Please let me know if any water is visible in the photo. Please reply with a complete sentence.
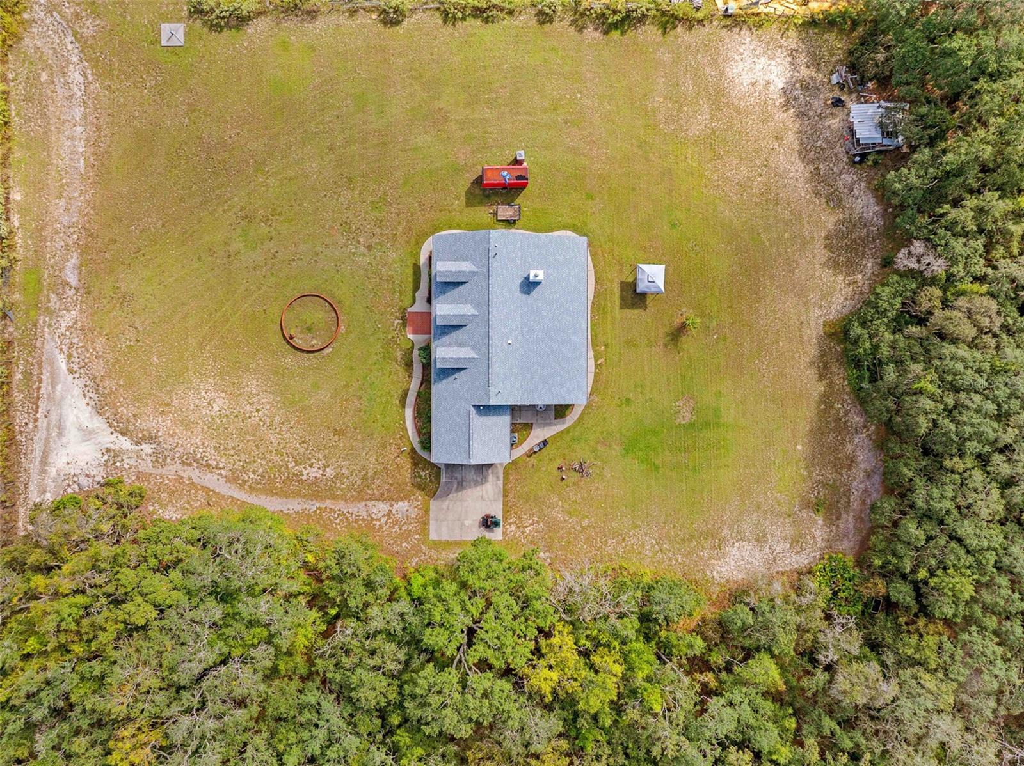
No, no water is visible.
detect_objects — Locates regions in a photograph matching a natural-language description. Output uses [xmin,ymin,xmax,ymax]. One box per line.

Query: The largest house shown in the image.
[432,230,588,464]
